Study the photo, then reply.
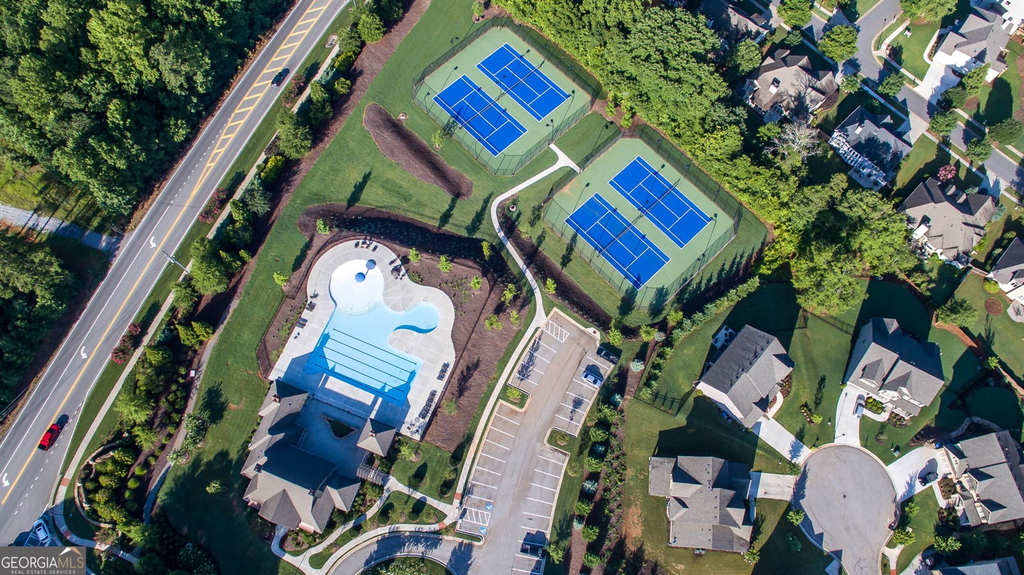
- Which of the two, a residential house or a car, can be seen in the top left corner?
car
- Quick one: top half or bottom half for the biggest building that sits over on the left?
bottom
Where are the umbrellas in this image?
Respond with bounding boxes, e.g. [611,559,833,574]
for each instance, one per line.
[387,264,401,277]
[411,415,421,426]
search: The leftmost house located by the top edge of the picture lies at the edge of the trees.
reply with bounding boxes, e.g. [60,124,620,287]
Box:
[699,0,770,52]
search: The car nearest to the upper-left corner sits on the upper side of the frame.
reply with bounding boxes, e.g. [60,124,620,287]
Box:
[271,68,288,85]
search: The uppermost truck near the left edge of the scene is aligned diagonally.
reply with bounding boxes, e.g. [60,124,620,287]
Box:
[35,423,60,452]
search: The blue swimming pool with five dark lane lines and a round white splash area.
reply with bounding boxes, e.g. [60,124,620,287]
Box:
[267,239,456,482]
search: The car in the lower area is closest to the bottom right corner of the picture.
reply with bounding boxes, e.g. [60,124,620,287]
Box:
[919,551,946,572]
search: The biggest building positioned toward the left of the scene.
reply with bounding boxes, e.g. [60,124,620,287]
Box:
[236,380,363,534]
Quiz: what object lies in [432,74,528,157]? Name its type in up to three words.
tennis court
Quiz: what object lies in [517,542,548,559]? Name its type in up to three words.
vehicle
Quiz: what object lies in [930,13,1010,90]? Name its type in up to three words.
house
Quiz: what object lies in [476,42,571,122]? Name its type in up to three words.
tennis court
